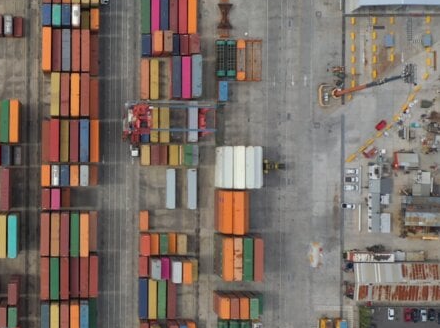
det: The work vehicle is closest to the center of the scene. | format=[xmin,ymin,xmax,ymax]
[262,158,288,172]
